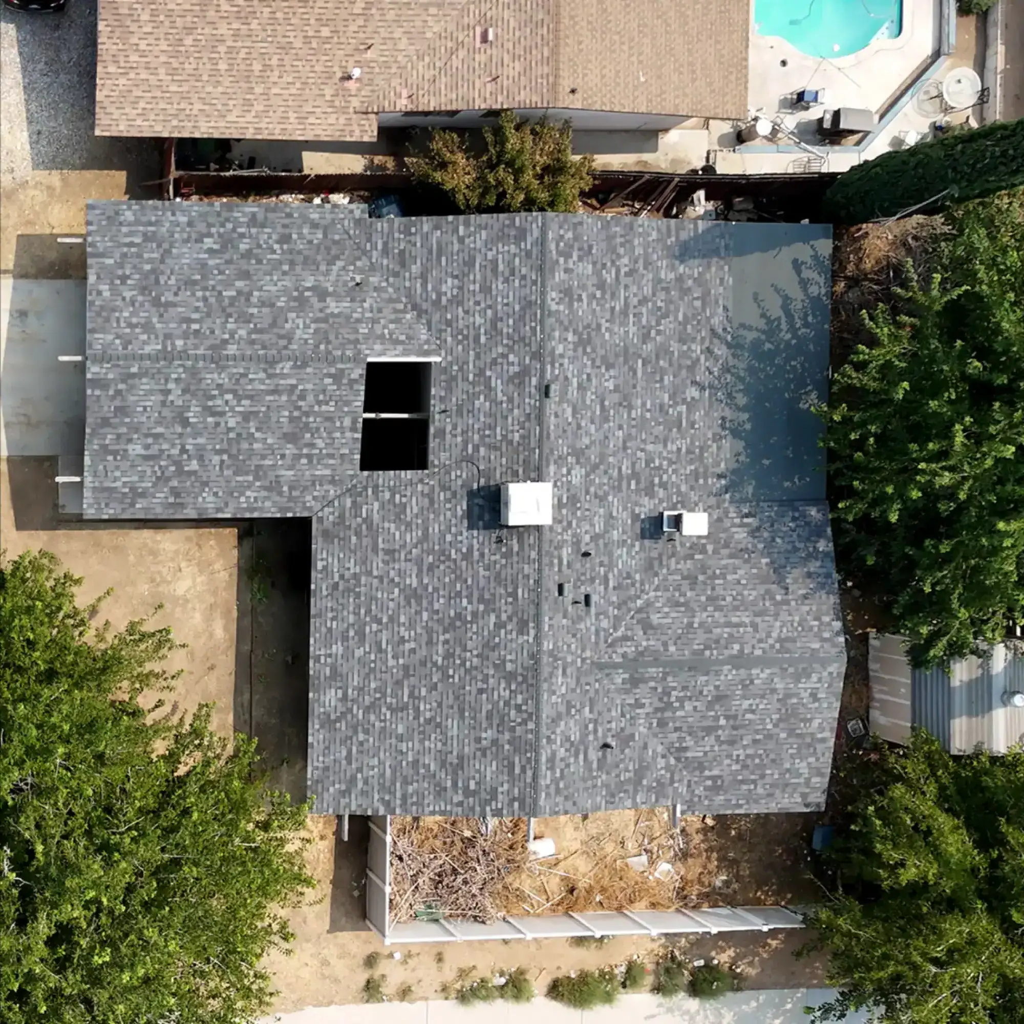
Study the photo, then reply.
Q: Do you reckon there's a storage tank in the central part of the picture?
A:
No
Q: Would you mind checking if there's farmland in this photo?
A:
No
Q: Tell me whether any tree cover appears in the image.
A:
Yes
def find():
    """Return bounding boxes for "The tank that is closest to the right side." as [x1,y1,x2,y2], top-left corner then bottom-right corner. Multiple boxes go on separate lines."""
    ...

[735,111,771,145]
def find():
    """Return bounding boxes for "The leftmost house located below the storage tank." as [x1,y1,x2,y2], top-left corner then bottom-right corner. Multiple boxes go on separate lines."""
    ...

[57,201,848,845]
